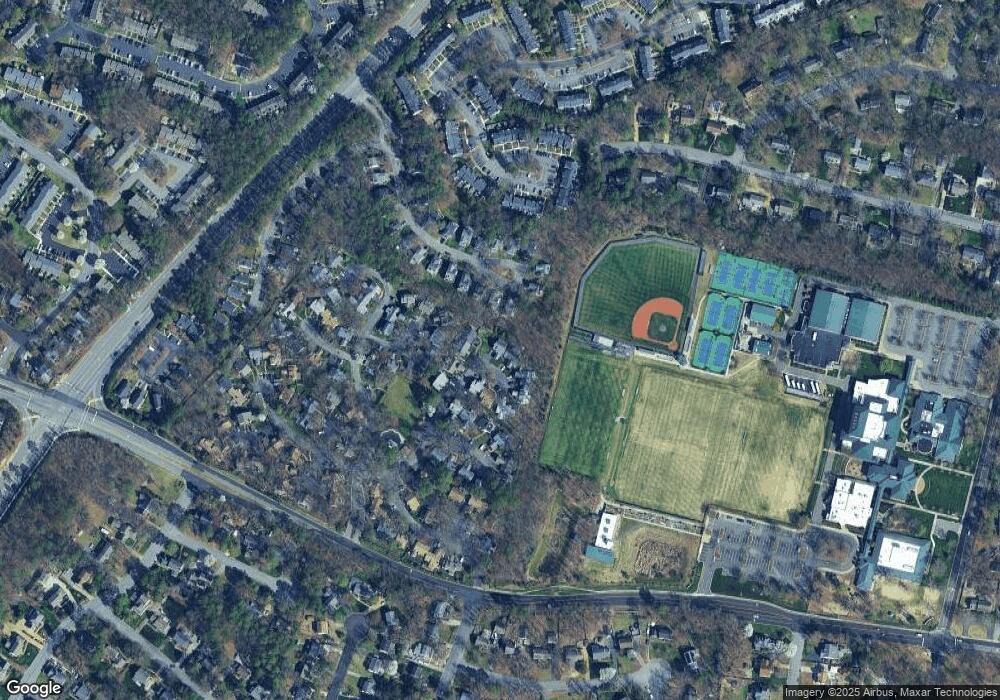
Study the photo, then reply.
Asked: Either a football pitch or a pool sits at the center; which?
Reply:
football pitch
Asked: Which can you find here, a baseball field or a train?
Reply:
baseball field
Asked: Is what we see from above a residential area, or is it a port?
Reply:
residential area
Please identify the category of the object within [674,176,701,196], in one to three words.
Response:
house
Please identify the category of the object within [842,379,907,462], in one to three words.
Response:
building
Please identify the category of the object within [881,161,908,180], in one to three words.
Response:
house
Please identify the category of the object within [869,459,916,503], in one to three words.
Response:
building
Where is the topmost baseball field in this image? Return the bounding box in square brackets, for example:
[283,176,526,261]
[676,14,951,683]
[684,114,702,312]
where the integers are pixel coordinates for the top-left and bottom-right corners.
[574,235,701,351]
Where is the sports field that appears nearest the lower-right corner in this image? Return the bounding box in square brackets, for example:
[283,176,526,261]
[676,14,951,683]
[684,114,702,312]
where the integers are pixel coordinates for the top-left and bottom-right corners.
[608,366,822,527]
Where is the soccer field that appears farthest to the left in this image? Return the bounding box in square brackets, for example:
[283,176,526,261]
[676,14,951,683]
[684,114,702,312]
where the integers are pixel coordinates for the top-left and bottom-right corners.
[539,341,634,479]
